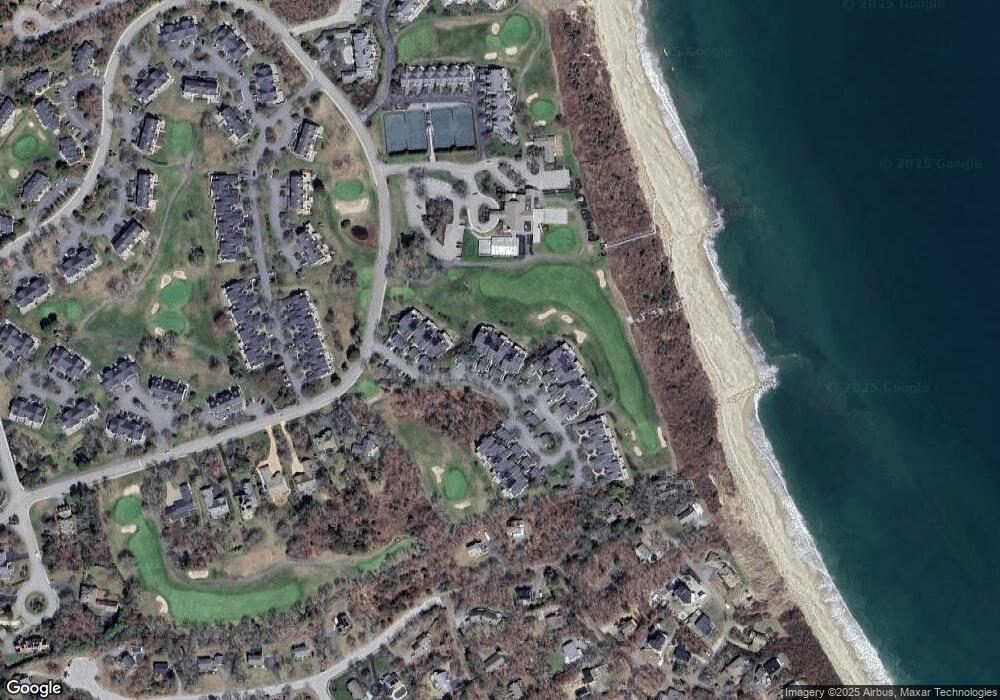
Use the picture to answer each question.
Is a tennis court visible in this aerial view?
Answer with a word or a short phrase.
Yes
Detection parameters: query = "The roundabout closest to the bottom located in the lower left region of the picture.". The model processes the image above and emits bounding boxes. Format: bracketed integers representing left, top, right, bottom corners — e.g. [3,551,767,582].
[17,582,59,624]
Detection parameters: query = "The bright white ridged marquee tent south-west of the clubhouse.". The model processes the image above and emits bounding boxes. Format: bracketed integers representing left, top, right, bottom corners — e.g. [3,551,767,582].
[492,237,519,256]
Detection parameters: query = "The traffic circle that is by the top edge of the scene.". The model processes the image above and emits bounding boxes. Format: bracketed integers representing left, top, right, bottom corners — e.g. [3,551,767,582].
[12,8,46,42]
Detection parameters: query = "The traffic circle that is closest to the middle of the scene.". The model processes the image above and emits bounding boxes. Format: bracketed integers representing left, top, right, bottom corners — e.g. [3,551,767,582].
[468,196,500,233]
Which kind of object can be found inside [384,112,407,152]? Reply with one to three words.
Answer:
tennis court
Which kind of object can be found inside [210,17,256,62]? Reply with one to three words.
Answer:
building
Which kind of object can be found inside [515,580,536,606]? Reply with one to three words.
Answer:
house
